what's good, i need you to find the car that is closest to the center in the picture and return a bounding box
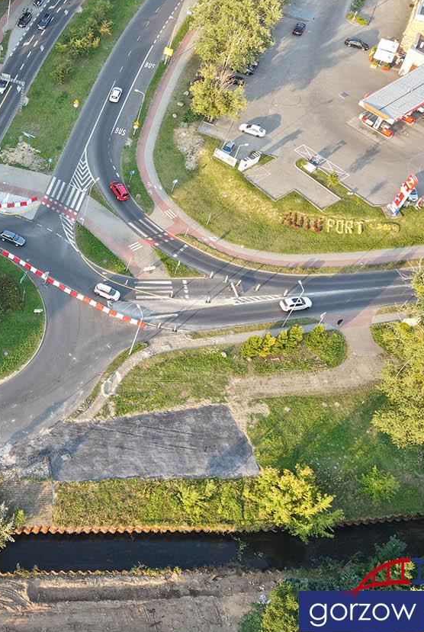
[279,298,312,314]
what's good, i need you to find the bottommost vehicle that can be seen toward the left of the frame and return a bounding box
[92,282,121,304]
